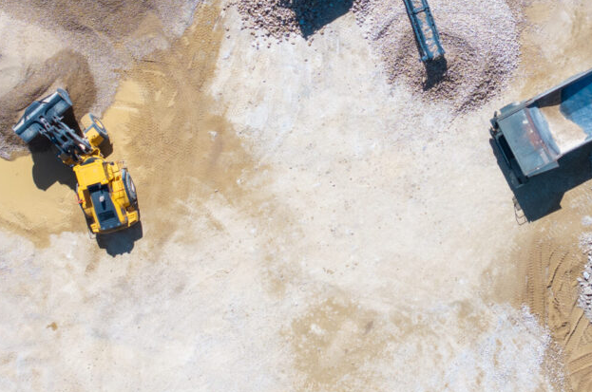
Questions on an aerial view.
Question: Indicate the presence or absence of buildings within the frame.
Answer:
No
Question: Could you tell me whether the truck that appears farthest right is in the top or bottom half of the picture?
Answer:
top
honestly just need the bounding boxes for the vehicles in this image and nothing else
[16,87,140,239]
[492,69,592,177]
